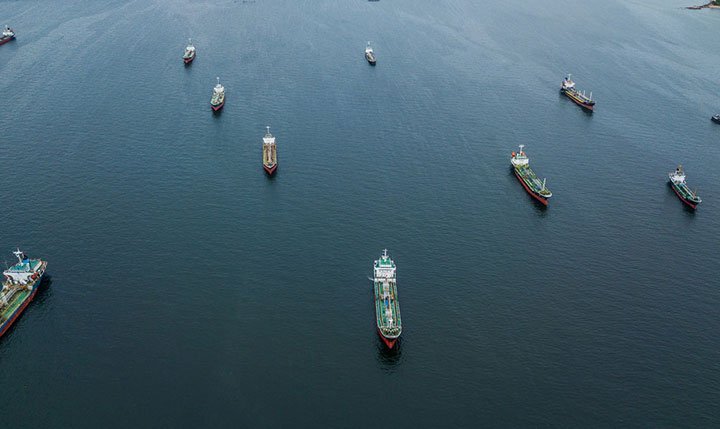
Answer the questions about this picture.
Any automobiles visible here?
No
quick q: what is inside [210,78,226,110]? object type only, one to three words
ship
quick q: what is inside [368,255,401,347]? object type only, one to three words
ship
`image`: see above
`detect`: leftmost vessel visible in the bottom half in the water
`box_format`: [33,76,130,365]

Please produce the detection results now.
[0,250,48,337]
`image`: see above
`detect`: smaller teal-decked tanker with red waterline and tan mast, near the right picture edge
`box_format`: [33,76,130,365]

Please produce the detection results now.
[662,166,709,210]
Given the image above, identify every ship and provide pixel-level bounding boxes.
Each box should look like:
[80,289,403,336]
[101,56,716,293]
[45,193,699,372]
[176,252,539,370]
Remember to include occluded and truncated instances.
[506,146,554,205]
[558,77,597,111]
[262,126,277,175]
[0,27,14,44]
[0,250,48,337]
[210,78,226,110]
[368,255,401,347]
[662,166,709,210]
[181,41,196,63]
[365,47,378,65]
